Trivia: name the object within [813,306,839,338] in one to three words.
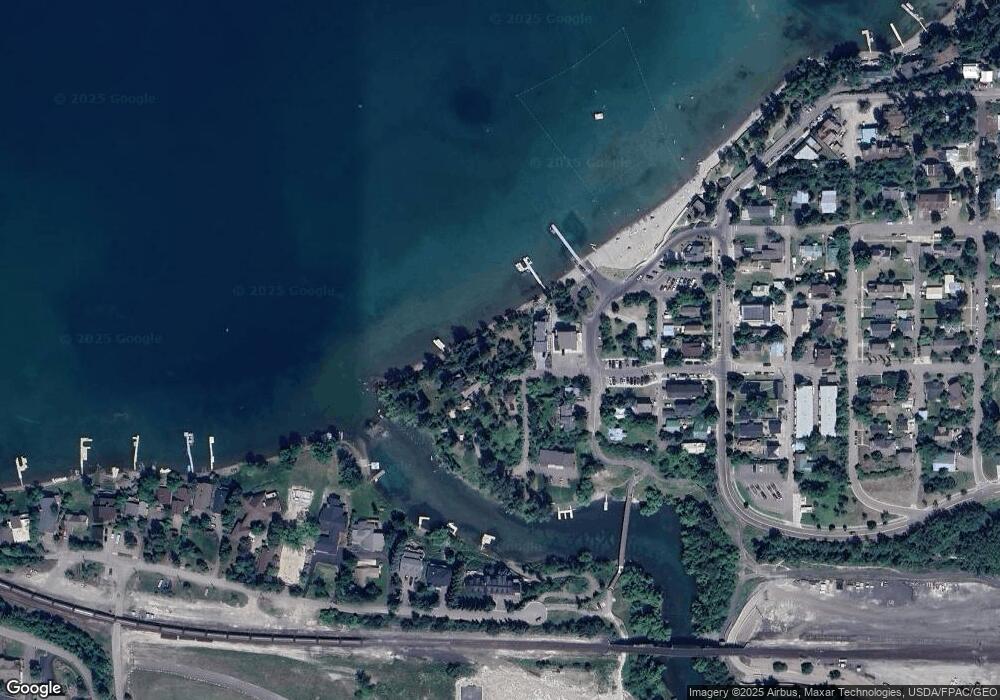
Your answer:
house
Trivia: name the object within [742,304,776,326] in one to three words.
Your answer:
building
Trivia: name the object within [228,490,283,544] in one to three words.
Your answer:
house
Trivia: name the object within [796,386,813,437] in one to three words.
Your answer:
building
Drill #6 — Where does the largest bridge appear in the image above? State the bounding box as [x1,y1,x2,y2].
[608,641,746,659]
